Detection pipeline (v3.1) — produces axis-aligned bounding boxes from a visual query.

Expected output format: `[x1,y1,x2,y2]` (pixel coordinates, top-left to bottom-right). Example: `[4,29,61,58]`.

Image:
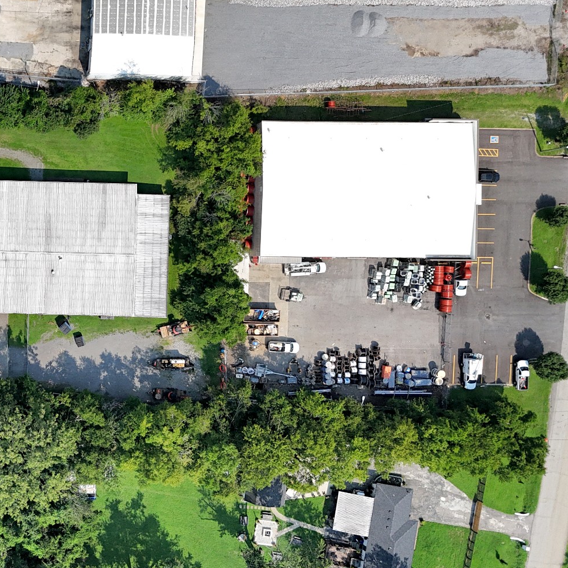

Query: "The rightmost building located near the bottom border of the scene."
[363,484,419,568]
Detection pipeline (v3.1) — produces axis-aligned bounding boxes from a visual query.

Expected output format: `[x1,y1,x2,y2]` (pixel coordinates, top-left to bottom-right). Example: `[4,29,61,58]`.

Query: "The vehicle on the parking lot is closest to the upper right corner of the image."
[479,169,502,183]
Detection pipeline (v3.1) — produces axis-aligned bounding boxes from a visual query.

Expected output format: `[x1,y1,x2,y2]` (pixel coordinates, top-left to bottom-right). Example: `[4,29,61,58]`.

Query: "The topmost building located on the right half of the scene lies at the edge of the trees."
[250,118,484,264]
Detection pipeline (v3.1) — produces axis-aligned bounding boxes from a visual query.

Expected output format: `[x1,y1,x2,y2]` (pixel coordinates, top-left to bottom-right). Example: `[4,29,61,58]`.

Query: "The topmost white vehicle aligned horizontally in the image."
[283,260,325,275]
